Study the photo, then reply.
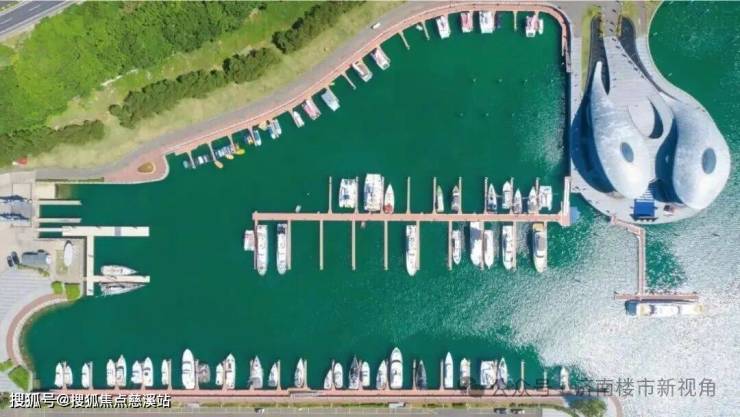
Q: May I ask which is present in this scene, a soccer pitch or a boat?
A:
boat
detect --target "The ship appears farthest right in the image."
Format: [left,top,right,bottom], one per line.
[629,302,708,318]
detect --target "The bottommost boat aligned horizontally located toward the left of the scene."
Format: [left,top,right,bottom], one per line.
[98,283,142,296]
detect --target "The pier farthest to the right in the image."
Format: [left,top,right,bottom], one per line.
[605,212,698,300]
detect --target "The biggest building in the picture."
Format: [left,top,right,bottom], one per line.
[572,36,731,208]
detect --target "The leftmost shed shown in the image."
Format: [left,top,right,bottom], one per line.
[18,251,51,265]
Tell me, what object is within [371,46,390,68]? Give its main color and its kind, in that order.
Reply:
white boat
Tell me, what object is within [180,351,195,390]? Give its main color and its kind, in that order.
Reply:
white boat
